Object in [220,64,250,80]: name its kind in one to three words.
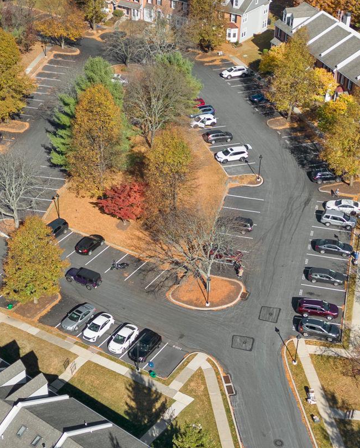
car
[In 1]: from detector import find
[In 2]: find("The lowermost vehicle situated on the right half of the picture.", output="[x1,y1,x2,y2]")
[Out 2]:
[296,314,345,341]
